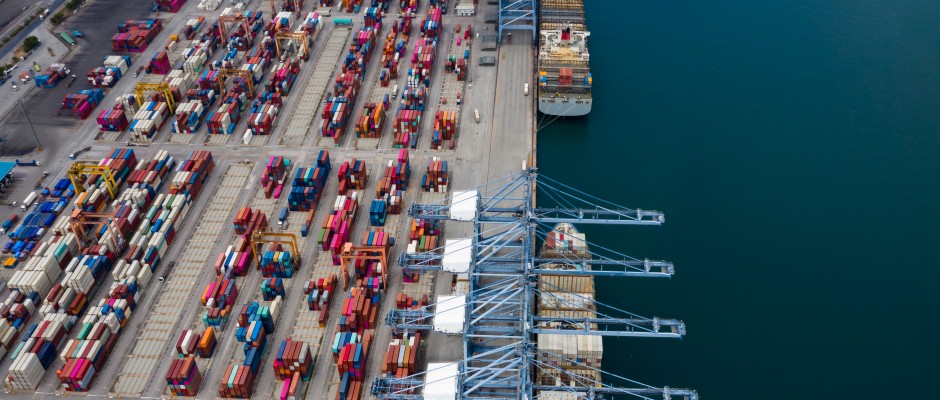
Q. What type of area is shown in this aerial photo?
port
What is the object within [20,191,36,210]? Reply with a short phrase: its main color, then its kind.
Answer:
white vehicle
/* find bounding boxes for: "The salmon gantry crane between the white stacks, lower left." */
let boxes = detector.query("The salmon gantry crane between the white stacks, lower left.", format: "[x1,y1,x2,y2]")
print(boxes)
[68,203,125,251]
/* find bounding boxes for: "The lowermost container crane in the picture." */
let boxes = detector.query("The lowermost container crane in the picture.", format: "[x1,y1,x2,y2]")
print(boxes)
[372,338,703,400]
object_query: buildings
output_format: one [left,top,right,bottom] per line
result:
[0,159,19,185]
[454,4,474,15]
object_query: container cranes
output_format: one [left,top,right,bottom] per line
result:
[65,152,112,195]
[68,203,125,251]
[341,241,389,293]
[133,72,175,109]
[372,338,703,400]
[386,271,690,398]
[274,26,308,61]
[215,62,253,100]
[397,214,677,342]
[408,166,665,287]
[216,15,251,49]
[249,221,300,269]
